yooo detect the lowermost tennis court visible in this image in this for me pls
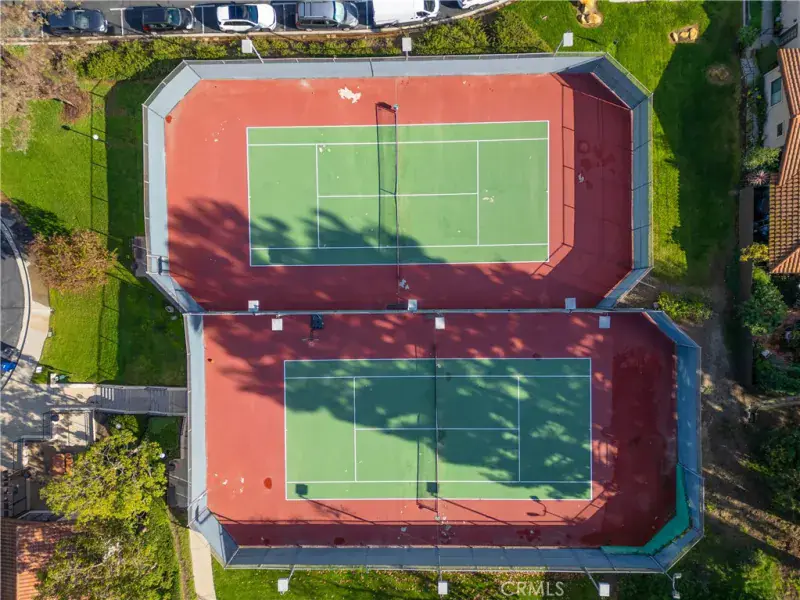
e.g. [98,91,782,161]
[205,310,677,548]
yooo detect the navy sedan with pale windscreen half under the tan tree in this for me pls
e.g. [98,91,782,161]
[48,5,112,37]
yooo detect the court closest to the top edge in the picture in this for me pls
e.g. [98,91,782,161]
[164,73,633,311]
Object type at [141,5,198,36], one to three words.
car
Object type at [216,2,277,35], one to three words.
car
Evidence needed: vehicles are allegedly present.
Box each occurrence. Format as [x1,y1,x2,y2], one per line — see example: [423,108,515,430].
[296,0,359,33]
[141,5,198,36]
[459,0,497,11]
[373,0,439,24]
[48,5,112,37]
[216,2,277,35]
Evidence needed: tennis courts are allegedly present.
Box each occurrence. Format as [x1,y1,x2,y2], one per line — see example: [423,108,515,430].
[205,310,677,548]
[164,73,633,311]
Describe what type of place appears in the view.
sports ground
